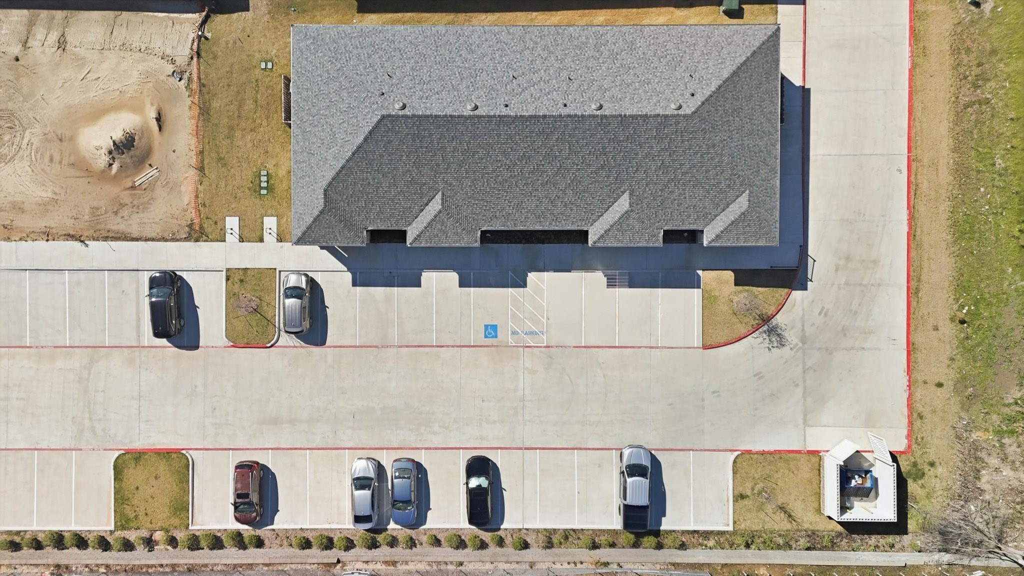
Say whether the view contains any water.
No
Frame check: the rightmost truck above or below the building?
below it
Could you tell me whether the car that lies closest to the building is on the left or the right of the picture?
left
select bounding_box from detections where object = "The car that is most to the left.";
[144,271,184,338]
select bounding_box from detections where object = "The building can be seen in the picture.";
[290,23,781,247]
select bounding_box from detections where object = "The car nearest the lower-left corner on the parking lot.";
[229,459,263,523]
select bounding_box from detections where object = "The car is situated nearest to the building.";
[279,272,312,335]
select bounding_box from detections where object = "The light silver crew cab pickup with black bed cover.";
[619,444,654,532]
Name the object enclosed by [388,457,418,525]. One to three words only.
car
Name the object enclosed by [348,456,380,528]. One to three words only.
car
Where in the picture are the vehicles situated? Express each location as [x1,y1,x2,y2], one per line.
[462,454,493,527]
[619,444,654,532]
[388,457,418,525]
[279,272,312,335]
[144,271,184,338]
[348,456,380,528]
[229,459,263,523]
